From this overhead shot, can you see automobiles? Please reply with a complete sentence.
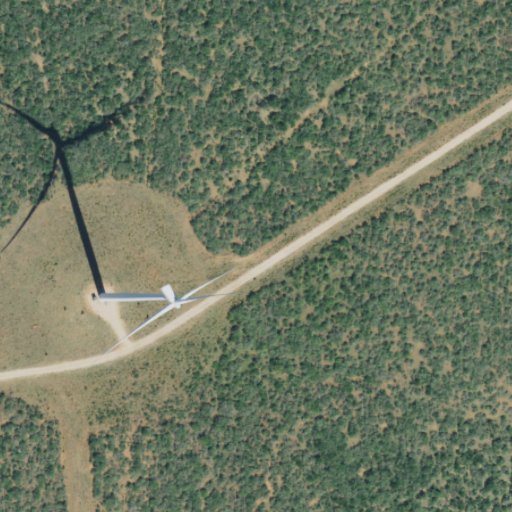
No, there's no automobile here.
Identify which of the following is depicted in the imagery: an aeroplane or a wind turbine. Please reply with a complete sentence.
Of the two, only a wind turbine appears.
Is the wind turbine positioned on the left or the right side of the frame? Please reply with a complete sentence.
The wind turbine sits on the left side.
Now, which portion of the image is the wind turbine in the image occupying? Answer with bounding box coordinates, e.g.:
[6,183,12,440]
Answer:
[96,266,240,362]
